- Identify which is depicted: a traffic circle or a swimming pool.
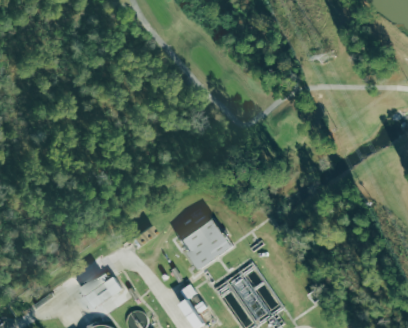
swimming pool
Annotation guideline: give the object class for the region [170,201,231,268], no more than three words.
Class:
building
